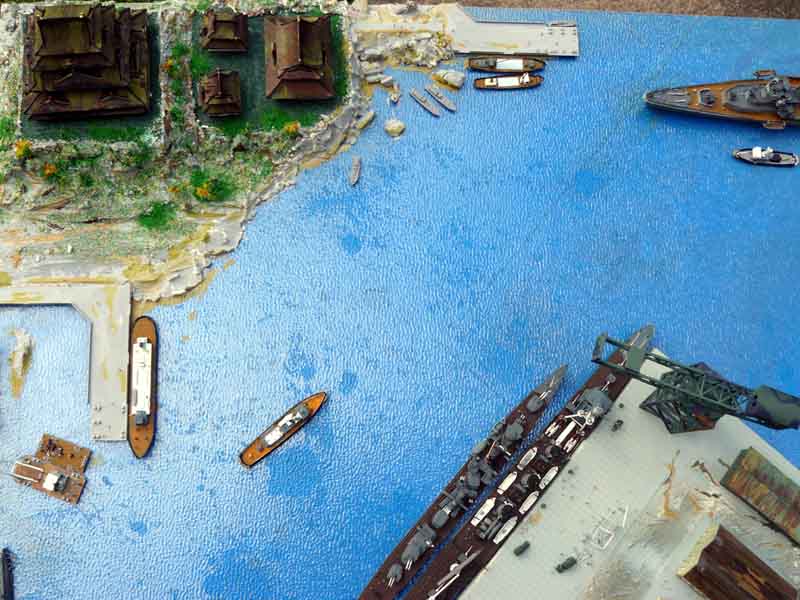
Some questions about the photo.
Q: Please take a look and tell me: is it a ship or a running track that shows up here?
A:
ship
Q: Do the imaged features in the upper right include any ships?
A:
Yes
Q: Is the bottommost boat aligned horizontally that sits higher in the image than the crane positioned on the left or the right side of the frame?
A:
right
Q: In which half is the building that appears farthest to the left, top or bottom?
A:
top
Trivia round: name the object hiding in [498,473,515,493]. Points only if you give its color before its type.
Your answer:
white boat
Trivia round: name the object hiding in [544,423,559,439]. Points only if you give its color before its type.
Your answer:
white boat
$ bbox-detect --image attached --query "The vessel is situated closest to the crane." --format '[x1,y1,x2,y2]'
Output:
[405,326,652,600]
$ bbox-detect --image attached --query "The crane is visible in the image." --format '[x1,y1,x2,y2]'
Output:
[589,334,800,436]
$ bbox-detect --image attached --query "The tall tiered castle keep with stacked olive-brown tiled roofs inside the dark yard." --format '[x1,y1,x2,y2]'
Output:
[22,5,148,116]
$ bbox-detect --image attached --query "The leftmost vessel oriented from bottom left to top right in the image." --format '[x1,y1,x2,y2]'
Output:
[240,393,327,468]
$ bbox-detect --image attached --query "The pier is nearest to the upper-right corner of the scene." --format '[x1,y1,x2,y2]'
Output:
[448,5,580,60]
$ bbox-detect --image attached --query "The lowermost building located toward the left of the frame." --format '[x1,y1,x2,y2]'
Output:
[195,62,243,119]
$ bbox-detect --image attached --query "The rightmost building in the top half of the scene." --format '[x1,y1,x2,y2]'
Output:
[264,8,338,105]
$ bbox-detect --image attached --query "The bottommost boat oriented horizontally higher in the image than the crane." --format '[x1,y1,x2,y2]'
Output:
[730,148,799,167]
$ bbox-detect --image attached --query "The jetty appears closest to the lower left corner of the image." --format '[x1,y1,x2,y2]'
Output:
[0,282,134,441]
